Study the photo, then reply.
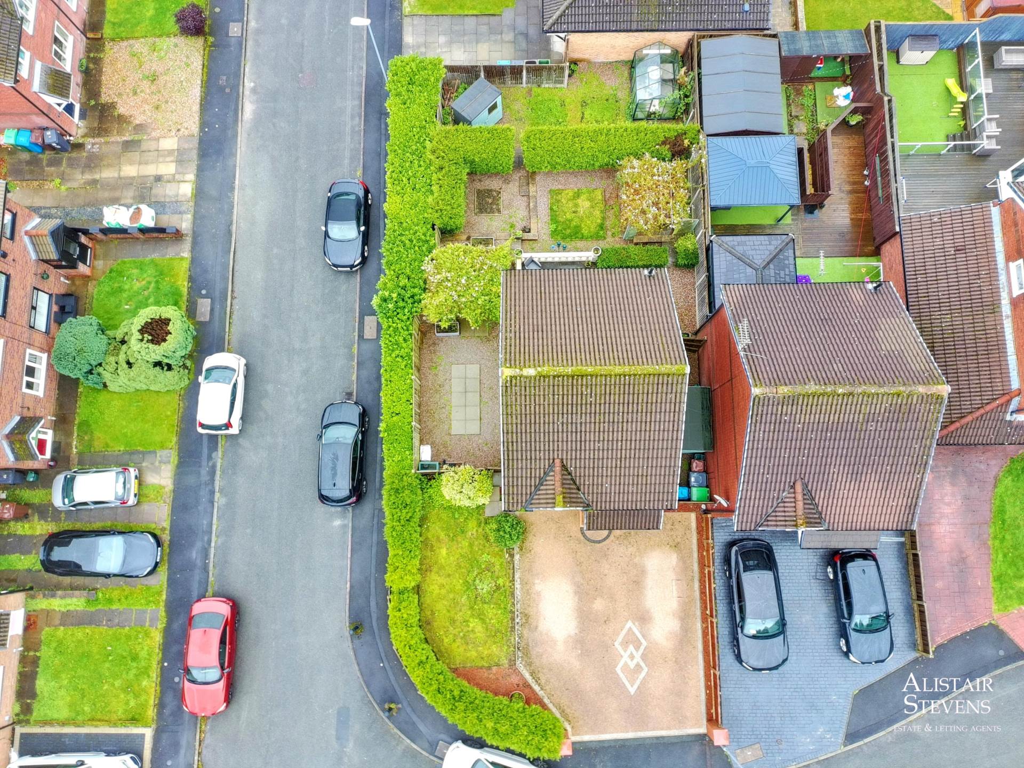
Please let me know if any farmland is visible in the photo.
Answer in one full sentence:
No, there is no farmland in the image.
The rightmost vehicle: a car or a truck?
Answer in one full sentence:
It turns out the rightmost vehicle is a car.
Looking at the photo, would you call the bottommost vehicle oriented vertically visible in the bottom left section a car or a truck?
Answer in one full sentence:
I'd say the bottommost vehicle oriented vertically visible in the bottom left section is a car.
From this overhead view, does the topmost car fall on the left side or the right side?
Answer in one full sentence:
The topmost car appears in the left half of the scene.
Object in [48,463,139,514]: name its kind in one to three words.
car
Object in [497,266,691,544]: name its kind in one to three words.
house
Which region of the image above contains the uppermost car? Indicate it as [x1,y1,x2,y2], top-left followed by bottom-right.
[318,178,370,271]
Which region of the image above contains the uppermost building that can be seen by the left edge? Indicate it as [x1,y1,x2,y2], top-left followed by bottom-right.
[0,0,89,141]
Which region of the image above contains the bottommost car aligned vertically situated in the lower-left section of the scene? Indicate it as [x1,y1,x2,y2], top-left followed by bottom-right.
[178,597,241,717]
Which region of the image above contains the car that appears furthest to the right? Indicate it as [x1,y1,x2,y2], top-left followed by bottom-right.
[831,552,901,666]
